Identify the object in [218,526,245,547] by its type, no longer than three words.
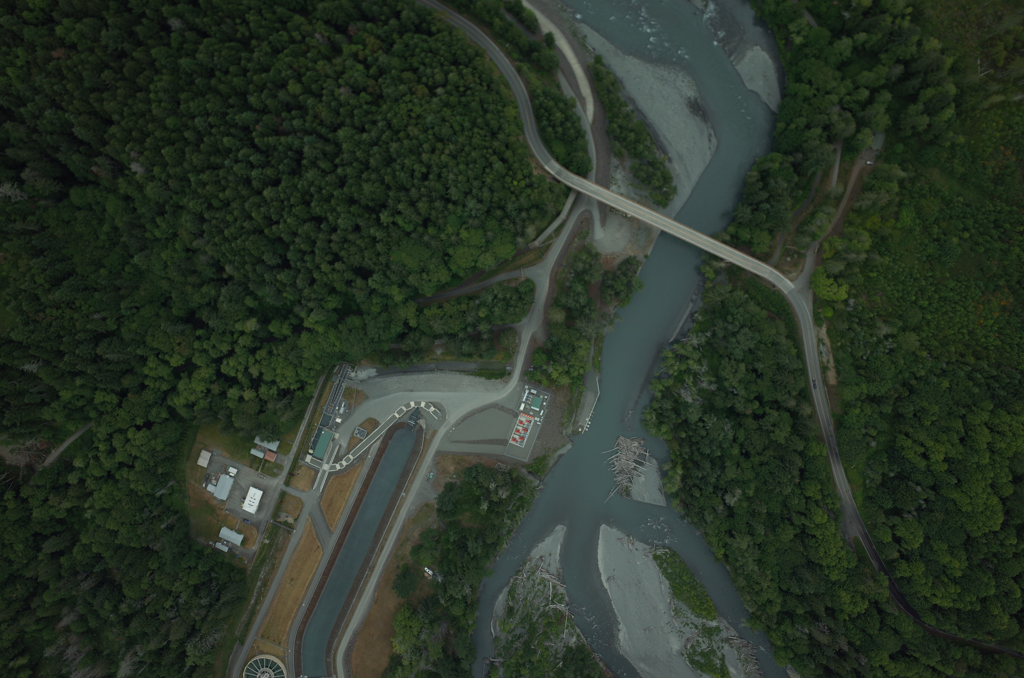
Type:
house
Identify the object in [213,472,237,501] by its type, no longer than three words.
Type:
building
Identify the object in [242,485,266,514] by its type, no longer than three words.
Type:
building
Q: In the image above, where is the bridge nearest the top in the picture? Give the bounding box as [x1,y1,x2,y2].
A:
[544,157,796,297]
